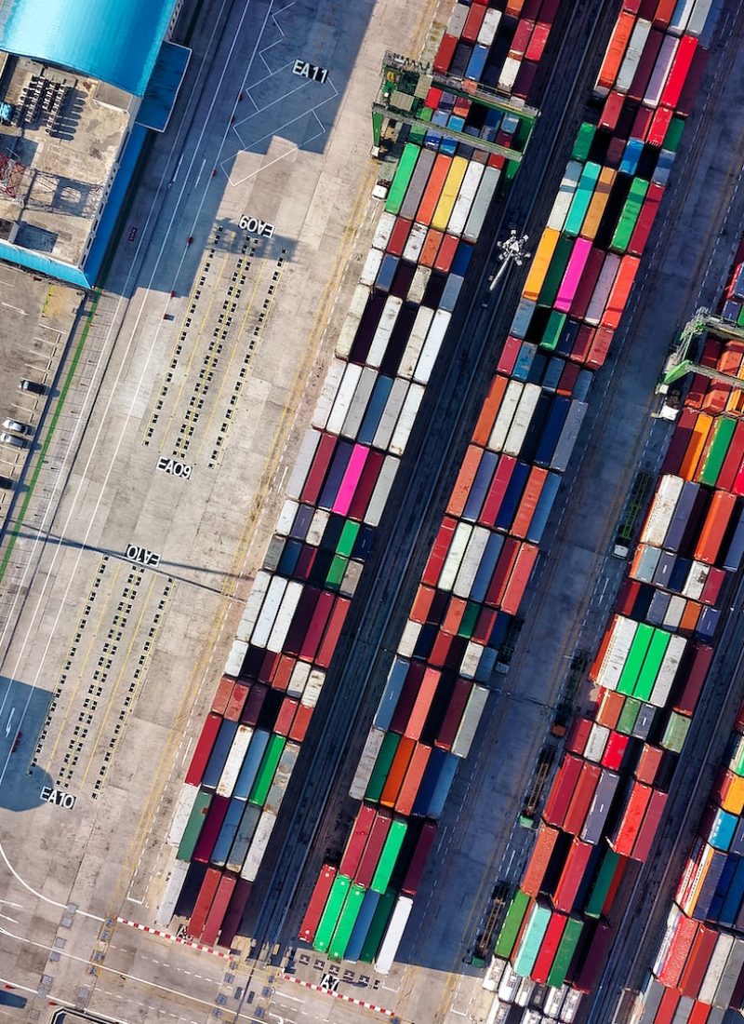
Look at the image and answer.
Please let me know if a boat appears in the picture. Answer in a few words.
No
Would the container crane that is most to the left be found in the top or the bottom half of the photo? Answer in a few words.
top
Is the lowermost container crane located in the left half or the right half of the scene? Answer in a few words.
right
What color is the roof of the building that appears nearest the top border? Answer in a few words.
blue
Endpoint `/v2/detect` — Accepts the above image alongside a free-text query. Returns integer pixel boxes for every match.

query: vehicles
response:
[547,654,589,741]
[20,381,45,398]
[3,421,29,438]
[656,377,683,425]
[515,745,557,832]
[609,474,651,560]
[0,476,16,491]
[364,119,407,207]
[468,885,510,973]
[492,593,533,678]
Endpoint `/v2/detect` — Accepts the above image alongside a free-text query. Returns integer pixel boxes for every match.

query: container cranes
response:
[660,313,744,390]
[369,38,543,194]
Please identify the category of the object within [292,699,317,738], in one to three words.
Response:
shipping container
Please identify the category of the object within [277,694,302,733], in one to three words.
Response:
shipping container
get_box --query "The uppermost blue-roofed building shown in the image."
[0,0,193,135]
